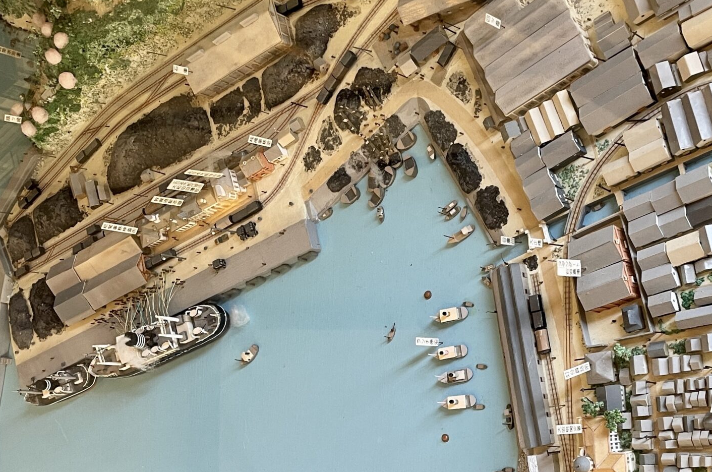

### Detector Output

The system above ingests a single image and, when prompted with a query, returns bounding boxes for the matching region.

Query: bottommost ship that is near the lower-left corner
[8,367,100,409]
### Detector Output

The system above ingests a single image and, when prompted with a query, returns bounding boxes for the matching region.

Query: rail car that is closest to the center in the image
[229,201,265,223]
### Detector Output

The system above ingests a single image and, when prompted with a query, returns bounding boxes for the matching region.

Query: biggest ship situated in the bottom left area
[76,301,235,387]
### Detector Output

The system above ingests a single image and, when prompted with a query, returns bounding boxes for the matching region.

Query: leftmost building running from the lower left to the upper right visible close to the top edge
[184,0,295,99]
